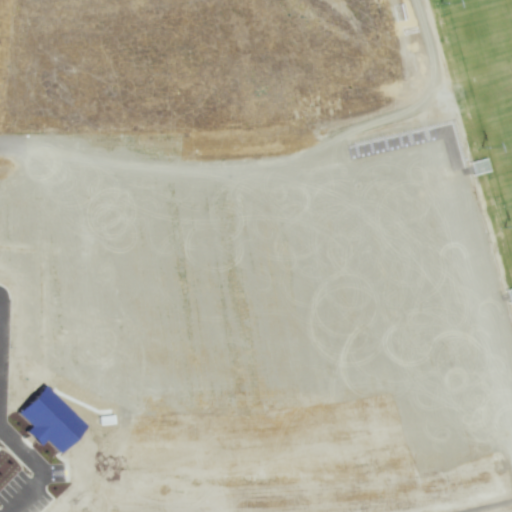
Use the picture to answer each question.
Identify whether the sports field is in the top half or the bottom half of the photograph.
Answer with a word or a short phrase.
top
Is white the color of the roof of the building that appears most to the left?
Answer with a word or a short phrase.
No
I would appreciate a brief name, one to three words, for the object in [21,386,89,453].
building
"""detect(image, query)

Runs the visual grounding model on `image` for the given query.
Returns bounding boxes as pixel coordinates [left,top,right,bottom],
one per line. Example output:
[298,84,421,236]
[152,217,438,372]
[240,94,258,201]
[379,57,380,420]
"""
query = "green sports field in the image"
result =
[430,0,512,290]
